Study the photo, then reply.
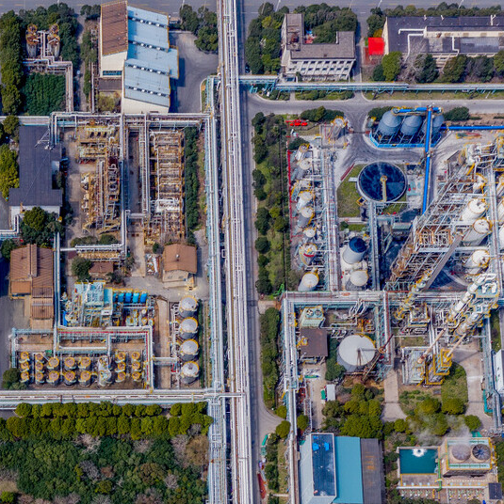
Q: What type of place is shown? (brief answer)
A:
industrial area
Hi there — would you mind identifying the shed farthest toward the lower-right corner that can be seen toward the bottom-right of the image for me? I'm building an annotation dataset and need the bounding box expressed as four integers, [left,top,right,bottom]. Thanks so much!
[484,483,503,503]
